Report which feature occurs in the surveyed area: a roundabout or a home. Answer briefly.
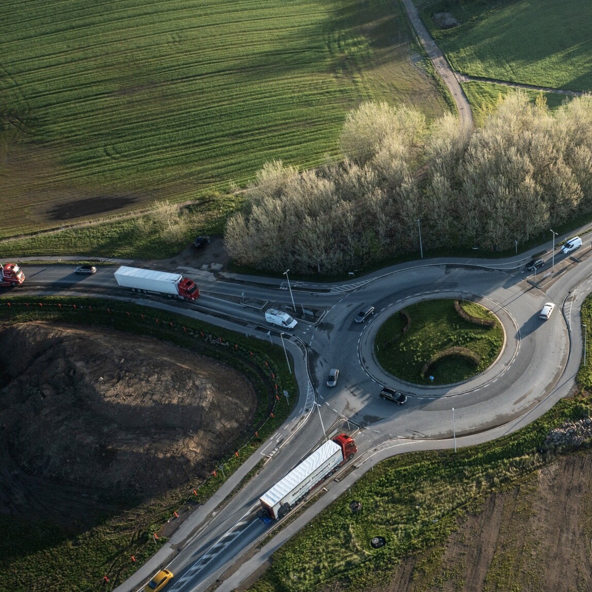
roundabout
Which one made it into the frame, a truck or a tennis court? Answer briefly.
truck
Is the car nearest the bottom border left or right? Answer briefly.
left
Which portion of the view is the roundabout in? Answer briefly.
right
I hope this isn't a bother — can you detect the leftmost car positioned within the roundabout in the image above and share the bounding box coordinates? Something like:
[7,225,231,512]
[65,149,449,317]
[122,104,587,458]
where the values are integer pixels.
[324,366,339,386]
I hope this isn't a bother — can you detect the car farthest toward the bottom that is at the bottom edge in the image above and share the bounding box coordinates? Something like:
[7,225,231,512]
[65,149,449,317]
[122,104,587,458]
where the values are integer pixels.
[142,566,174,592]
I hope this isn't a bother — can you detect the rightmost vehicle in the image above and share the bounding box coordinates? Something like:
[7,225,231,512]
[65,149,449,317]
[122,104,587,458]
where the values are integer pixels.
[562,235,582,252]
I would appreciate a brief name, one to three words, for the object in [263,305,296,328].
vehicle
